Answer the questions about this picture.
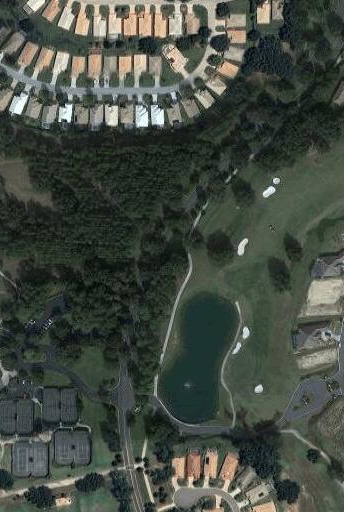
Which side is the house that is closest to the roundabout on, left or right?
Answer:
right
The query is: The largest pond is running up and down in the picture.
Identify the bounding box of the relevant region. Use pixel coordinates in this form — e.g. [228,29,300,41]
[158,289,236,424]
